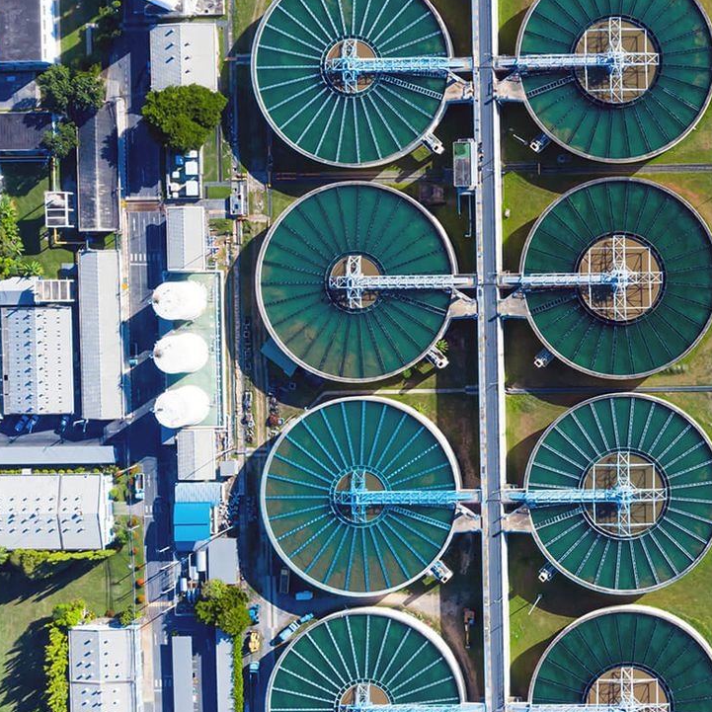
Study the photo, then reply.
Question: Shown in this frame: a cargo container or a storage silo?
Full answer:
It is a storage silo that can be seen here.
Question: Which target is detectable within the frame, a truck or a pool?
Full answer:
This aerial view contains a truck.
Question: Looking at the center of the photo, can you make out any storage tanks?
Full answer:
Yes, I can see a storage tank at the center of the photo.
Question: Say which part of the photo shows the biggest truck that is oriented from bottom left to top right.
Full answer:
The biggest truck that is oriented from bottom left to top right appears toward the bottom of the photo.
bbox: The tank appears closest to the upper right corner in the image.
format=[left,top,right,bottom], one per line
[503,0,712,163]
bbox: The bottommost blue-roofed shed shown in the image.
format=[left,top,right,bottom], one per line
[173,503,218,551]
